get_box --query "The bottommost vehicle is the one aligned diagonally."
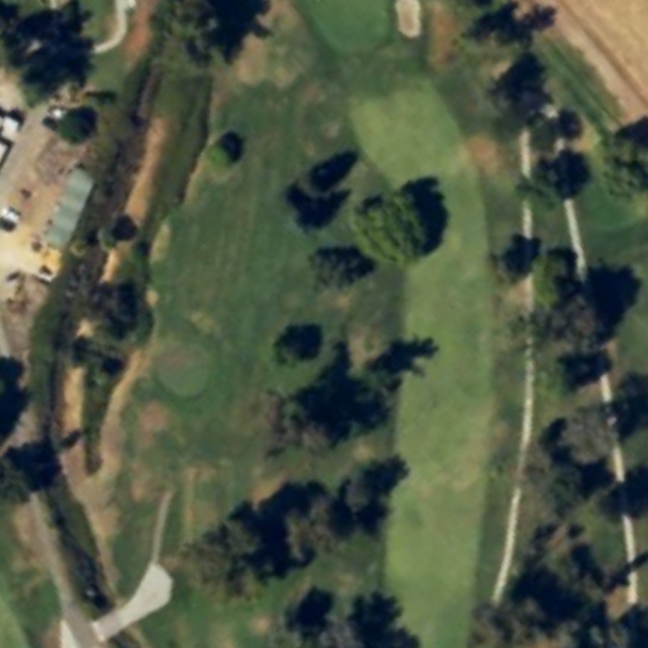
[37,266,58,282]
